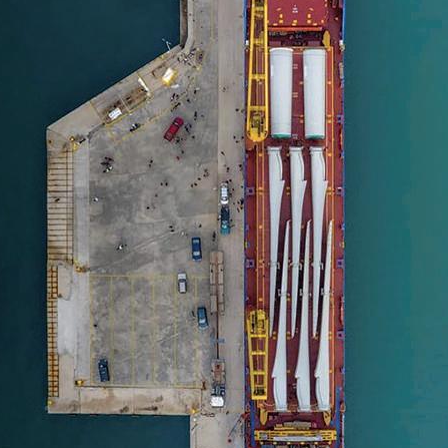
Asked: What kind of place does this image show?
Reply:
port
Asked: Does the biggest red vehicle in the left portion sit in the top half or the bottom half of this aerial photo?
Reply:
top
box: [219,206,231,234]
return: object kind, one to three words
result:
vehicle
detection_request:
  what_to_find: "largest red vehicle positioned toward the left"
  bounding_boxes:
[163,116,183,142]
